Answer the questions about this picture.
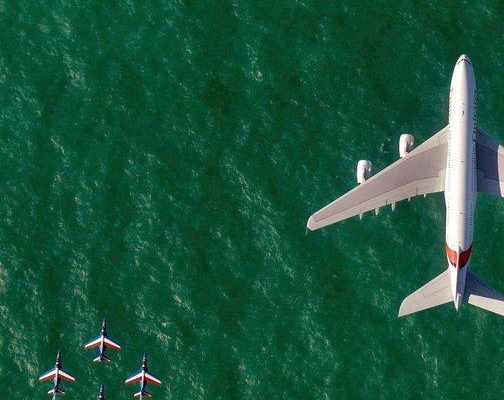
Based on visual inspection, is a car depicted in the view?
No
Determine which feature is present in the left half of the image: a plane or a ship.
plane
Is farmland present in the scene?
No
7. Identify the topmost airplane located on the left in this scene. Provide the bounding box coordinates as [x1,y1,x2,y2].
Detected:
[85,319,121,362]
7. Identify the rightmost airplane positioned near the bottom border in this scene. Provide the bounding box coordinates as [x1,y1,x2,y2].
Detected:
[125,352,162,397]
